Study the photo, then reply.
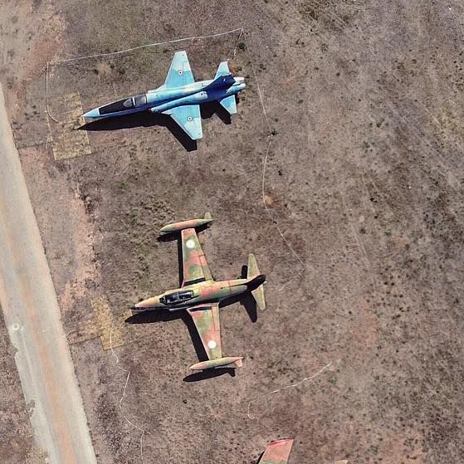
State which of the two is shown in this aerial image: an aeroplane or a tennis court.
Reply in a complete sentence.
Looking from above, you can make out an aeroplane.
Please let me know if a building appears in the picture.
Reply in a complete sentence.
No, there isn't any building down there.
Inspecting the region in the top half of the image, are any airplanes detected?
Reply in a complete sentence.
Yes, there is an airplane in the top half of the image.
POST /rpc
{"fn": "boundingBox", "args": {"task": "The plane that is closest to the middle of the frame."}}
[134,210,269,369]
